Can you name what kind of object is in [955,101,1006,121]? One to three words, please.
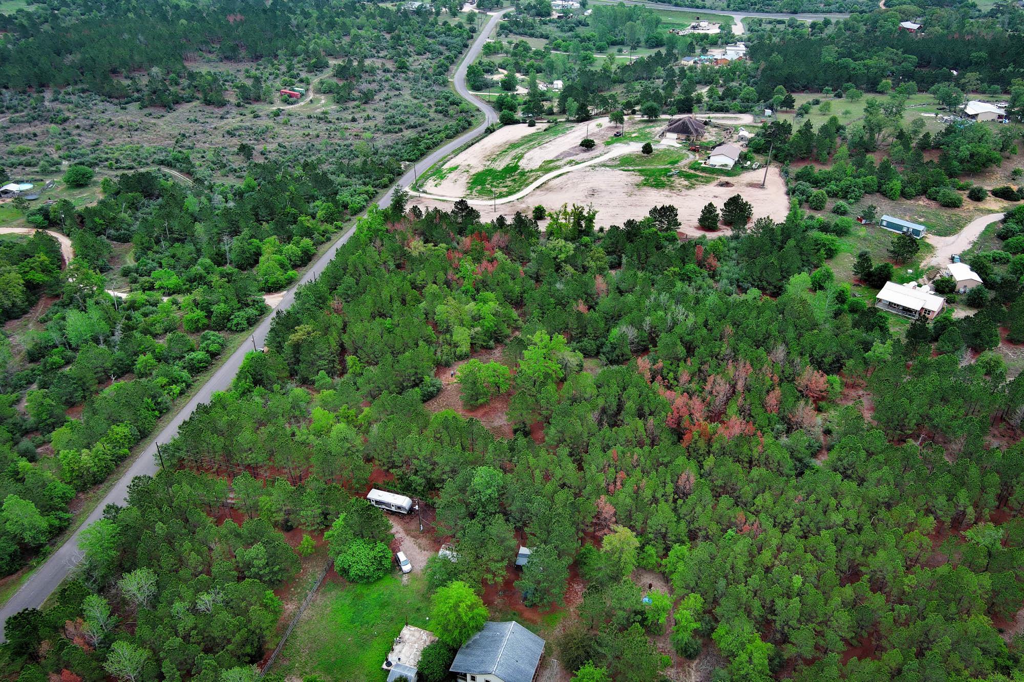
house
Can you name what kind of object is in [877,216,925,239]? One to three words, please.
house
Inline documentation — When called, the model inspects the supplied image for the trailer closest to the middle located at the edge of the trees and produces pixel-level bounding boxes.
[367,489,417,517]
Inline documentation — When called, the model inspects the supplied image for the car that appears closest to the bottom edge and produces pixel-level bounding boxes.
[394,552,412,576]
